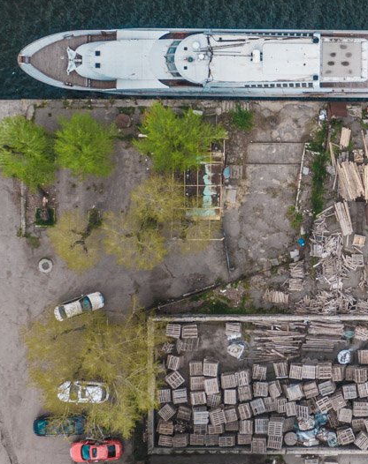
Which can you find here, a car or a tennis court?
car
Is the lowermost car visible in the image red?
Yes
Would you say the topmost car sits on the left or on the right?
left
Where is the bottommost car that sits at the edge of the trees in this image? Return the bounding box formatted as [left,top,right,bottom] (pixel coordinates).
[70,440,124,464]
